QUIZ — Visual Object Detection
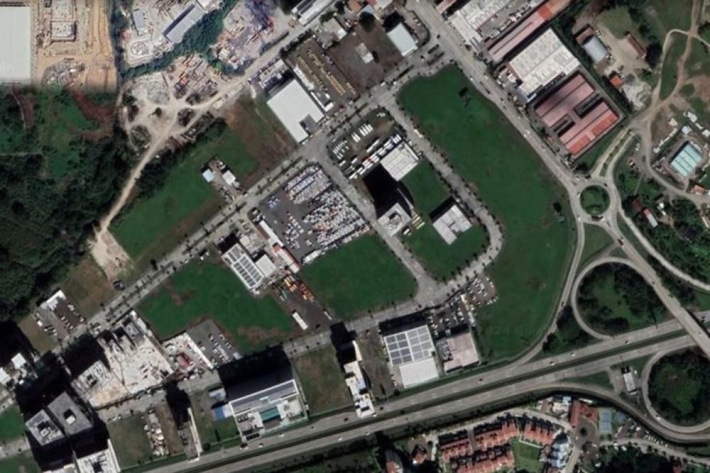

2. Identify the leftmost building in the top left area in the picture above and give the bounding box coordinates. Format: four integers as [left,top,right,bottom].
[0,6,32,80]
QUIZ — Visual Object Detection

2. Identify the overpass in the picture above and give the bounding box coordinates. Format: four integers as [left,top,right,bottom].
[608,225,710,364]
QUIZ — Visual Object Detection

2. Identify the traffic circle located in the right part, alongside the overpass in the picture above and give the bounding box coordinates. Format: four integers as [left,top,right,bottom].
[572,177,618,224]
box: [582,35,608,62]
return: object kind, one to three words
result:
shed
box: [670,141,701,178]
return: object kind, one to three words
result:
building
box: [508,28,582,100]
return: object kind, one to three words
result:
building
